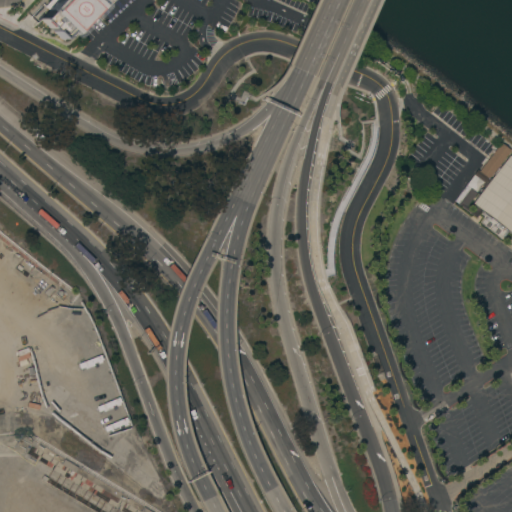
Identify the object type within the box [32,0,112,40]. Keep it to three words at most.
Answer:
building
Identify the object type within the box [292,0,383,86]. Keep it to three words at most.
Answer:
bridge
